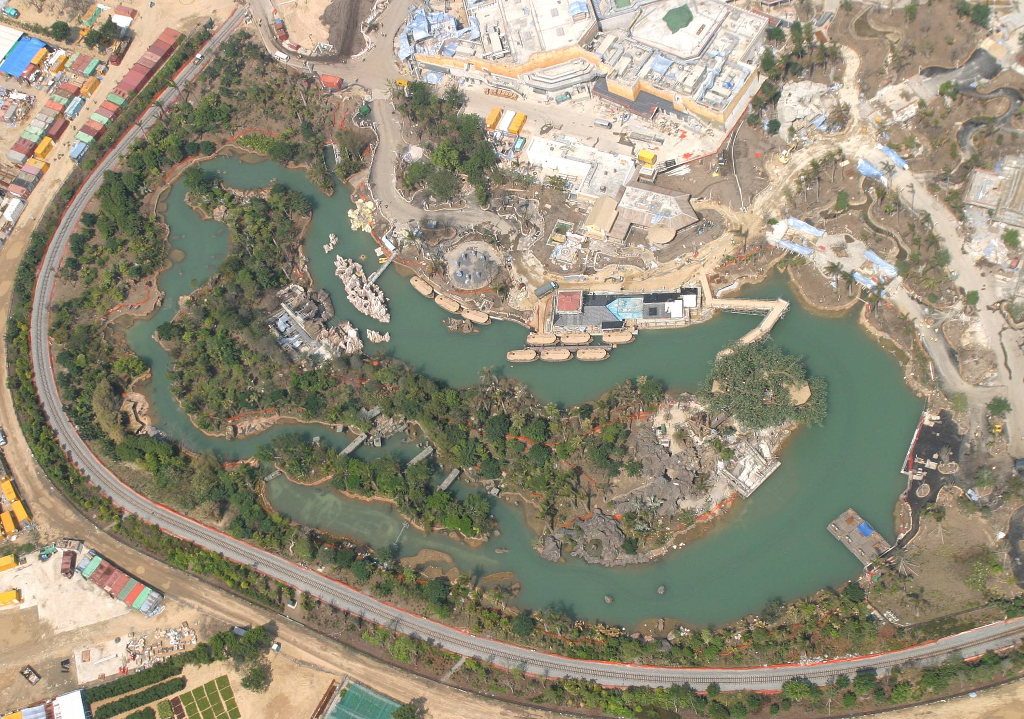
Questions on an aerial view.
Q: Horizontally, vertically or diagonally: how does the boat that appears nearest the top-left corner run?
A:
diagonally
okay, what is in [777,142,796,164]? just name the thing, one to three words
work vehicle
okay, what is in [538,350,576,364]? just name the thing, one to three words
boat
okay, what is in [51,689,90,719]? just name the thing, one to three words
shed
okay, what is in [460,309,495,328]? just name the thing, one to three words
boat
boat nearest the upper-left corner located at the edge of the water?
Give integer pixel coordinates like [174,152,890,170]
[409,278,437,301]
